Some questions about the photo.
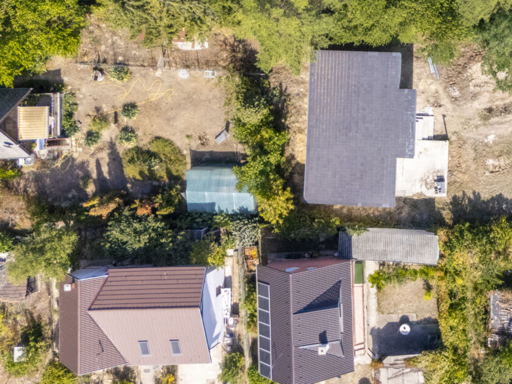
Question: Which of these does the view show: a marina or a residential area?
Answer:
residential area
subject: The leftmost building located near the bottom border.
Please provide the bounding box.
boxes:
[59,254,225,376]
